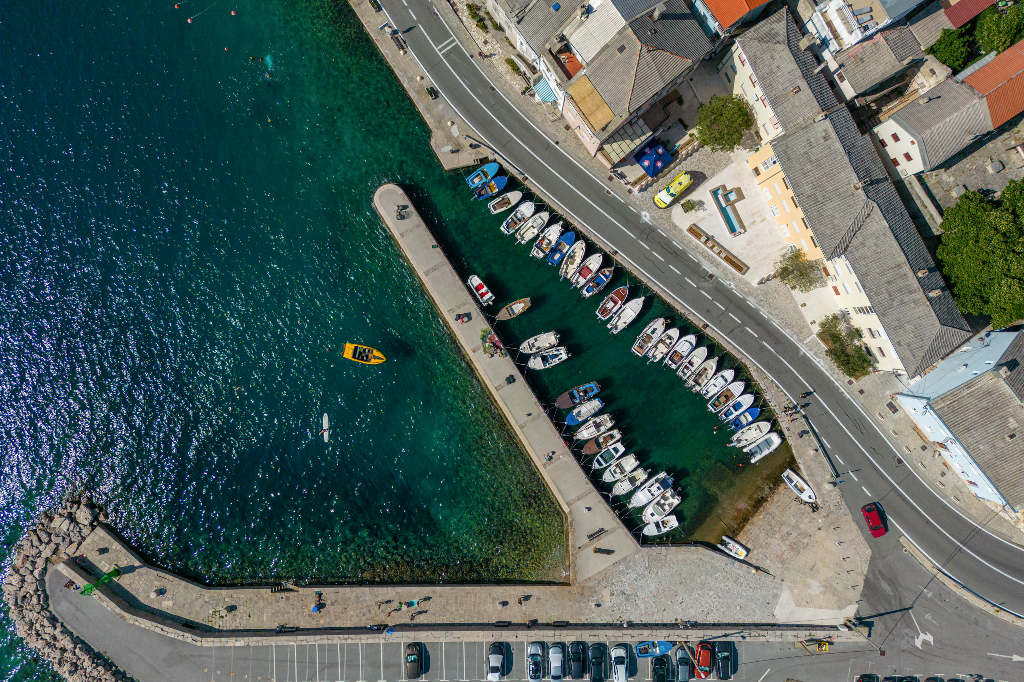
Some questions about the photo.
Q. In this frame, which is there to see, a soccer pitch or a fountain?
fountain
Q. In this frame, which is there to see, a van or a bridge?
van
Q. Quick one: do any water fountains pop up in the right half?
Yes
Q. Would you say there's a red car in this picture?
Yes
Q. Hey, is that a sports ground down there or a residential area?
residential area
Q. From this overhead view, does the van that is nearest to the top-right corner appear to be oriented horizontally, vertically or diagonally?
diagonally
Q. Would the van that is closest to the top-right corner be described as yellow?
Yes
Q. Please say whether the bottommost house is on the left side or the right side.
right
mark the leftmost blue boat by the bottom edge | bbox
[634,641,673,660]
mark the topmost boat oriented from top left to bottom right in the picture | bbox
[468,274,497,309]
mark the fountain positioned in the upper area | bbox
[708,185,745,237]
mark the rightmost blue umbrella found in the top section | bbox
[633,138,673,177]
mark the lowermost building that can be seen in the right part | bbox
[902,330,1024,516]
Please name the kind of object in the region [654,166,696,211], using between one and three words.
van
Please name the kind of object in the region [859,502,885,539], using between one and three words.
car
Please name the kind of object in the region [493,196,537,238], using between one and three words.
boat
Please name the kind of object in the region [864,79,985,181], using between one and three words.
house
